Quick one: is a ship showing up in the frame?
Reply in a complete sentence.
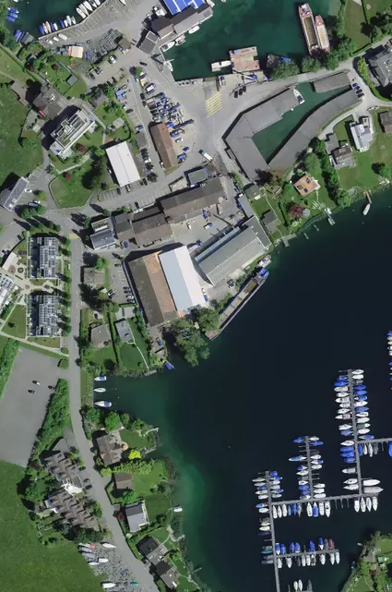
Yes, you can see a ship in this photo.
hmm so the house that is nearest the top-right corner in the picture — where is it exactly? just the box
[368,48,392,87]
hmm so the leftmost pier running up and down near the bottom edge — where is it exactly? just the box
[258,471,280,592]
